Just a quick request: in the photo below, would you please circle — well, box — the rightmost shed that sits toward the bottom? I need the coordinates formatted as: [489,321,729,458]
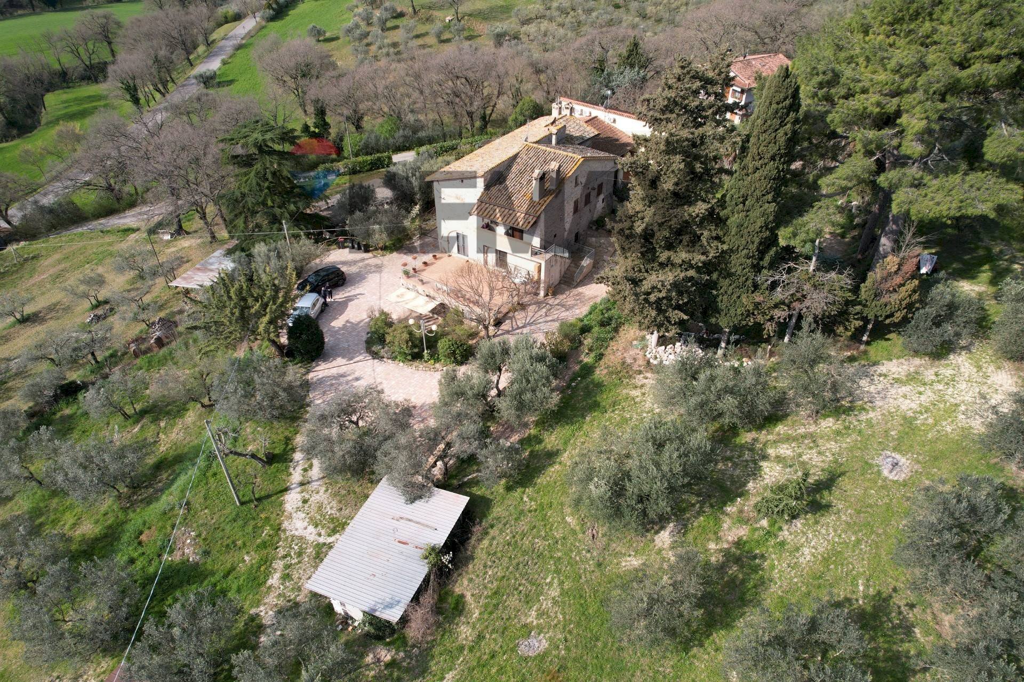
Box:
[307,480,470,623]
